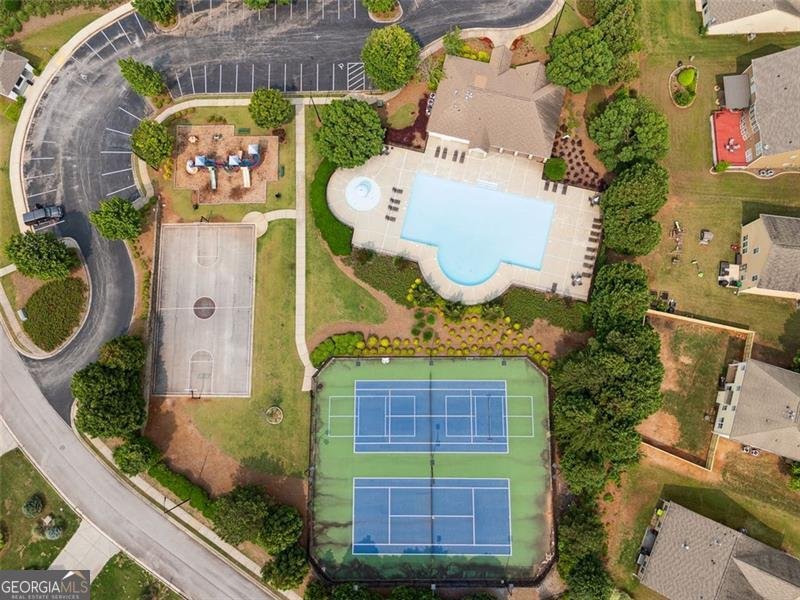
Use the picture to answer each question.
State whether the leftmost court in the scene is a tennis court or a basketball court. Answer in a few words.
basketball court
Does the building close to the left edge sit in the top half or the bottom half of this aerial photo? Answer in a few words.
top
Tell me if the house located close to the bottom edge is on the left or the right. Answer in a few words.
right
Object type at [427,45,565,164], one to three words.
building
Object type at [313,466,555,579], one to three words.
tennis court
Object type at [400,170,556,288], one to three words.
swimming pool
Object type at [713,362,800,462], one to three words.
house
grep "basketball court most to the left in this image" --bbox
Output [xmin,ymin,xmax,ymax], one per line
[152,223,255,397]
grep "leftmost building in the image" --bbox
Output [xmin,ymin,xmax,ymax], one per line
[0,49,37,102]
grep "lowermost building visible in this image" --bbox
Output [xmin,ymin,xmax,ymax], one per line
[638,499,800,600]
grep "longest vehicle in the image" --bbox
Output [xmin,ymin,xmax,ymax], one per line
[24,206,63,225]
